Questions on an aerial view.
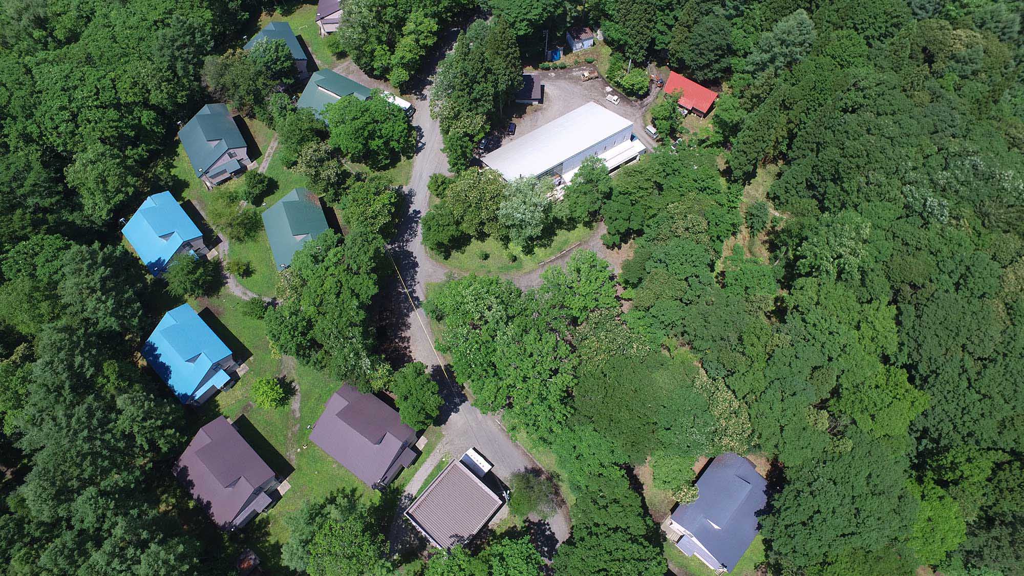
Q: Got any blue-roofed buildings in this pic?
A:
Yes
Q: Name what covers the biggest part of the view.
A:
trees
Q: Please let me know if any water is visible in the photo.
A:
No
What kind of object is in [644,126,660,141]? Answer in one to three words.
vehicle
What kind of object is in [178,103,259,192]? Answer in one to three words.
building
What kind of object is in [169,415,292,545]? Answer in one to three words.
building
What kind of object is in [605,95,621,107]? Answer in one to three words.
vehicle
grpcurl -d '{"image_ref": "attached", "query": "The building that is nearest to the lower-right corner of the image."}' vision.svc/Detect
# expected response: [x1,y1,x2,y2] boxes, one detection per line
[664,442,768,576]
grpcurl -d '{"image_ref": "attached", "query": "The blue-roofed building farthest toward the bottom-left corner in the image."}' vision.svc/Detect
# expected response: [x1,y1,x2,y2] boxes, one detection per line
[137,303,249,417]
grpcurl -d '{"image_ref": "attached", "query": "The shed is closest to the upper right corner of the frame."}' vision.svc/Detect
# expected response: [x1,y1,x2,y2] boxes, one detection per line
[665,70,718,121]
